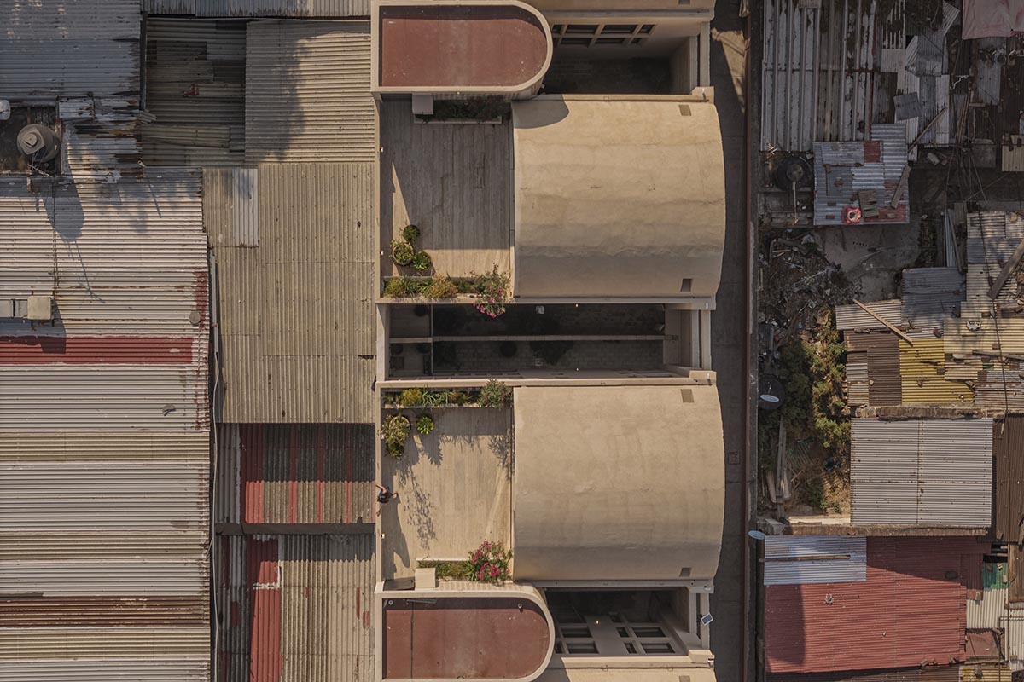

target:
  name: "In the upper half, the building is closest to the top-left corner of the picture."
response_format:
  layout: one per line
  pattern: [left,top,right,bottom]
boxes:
[0,0,142,102]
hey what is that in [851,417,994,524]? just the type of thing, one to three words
house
